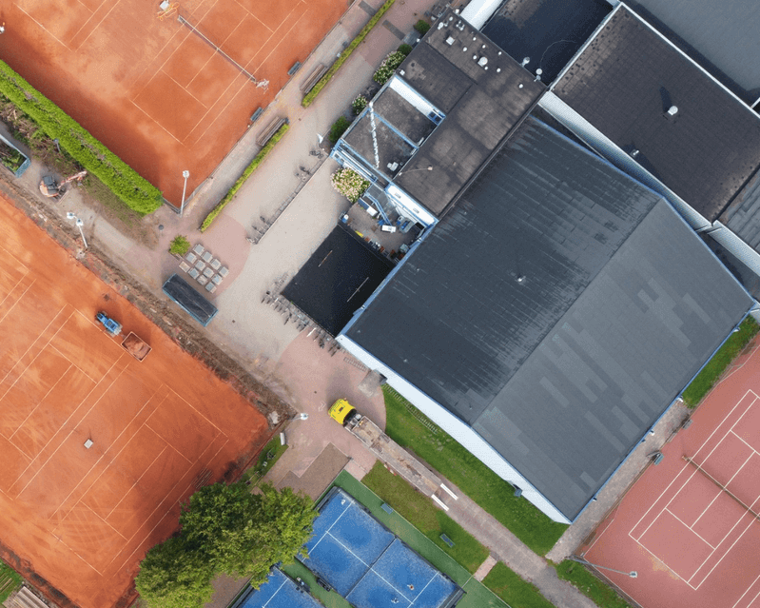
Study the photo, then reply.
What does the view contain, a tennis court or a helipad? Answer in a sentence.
There is a tennis court in the scene.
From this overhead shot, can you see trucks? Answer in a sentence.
Yes, a truck is visible in the scene.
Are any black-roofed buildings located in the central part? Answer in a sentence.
Yes, a black-roofed building shows up in the central part.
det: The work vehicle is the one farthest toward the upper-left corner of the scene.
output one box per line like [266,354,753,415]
[42,167,78,198]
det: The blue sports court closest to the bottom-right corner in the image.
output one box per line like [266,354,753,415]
[295,488,471,608]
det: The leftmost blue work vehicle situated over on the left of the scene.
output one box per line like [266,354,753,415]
[96,312,123,336]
